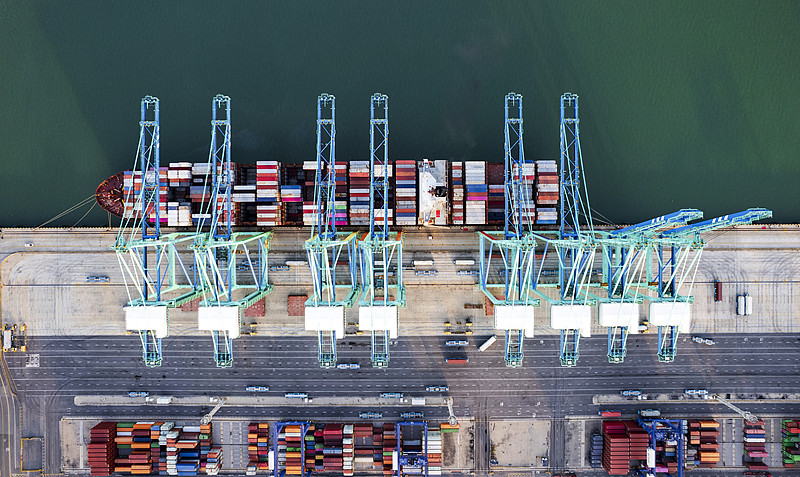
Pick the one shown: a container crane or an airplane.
container crane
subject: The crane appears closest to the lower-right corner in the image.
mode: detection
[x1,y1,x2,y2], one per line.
[636,418,684,477]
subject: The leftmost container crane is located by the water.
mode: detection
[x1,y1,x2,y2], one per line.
[114,94,212,369]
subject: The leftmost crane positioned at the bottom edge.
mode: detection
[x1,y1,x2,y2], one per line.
[271,419,314,477]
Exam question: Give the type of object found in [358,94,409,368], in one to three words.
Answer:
container crane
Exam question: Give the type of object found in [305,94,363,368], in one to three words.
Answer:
container crane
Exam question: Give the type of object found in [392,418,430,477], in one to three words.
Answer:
crane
